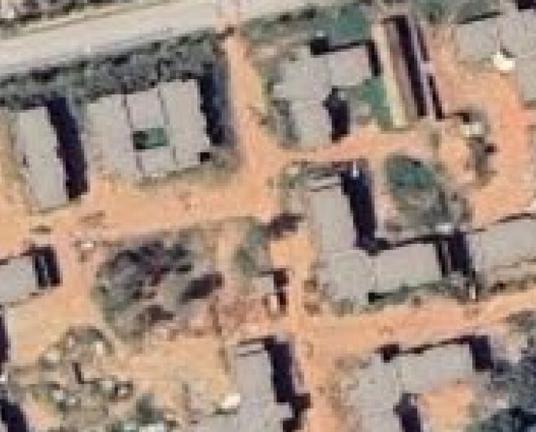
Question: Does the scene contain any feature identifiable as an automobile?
No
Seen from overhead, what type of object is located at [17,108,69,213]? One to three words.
house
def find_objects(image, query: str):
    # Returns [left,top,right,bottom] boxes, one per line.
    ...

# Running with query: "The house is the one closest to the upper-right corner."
[458,3,536,101]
